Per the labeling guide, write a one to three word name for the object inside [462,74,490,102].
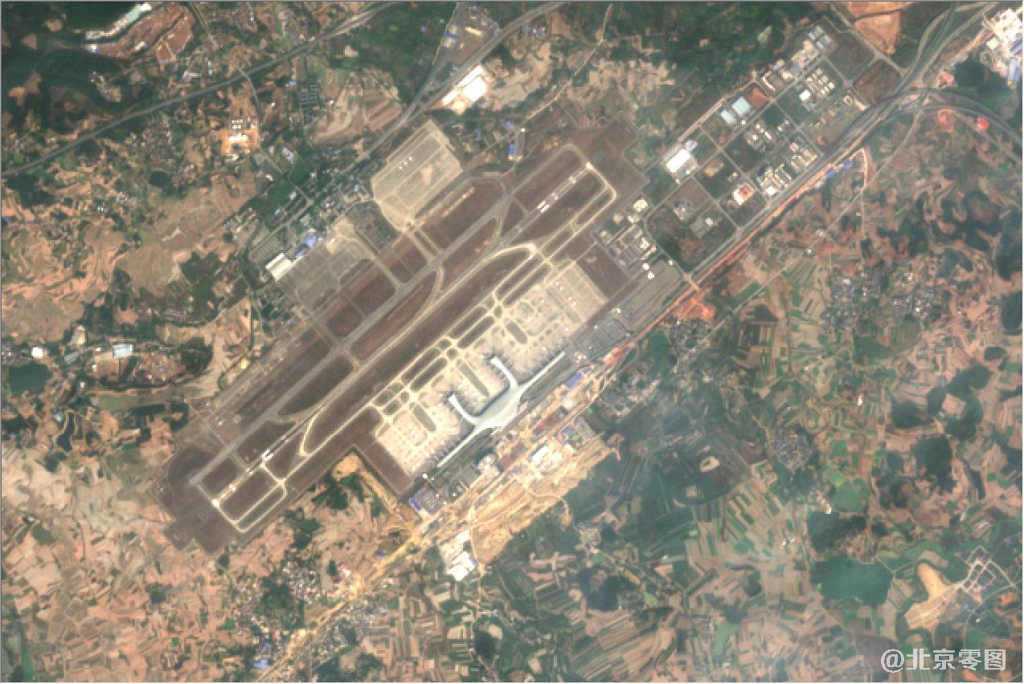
building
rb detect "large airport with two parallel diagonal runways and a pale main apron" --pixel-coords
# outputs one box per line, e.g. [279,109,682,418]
[157,106,649,555]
